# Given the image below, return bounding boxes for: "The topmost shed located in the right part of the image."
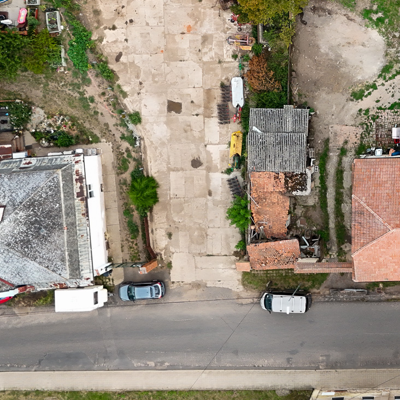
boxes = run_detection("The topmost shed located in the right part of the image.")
[247,105,310,173]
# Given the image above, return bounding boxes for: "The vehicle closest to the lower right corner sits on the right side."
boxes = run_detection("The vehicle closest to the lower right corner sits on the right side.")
[260,292,310,319]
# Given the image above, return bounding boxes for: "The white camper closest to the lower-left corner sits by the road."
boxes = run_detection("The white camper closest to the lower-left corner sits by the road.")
[46,287,114,317]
